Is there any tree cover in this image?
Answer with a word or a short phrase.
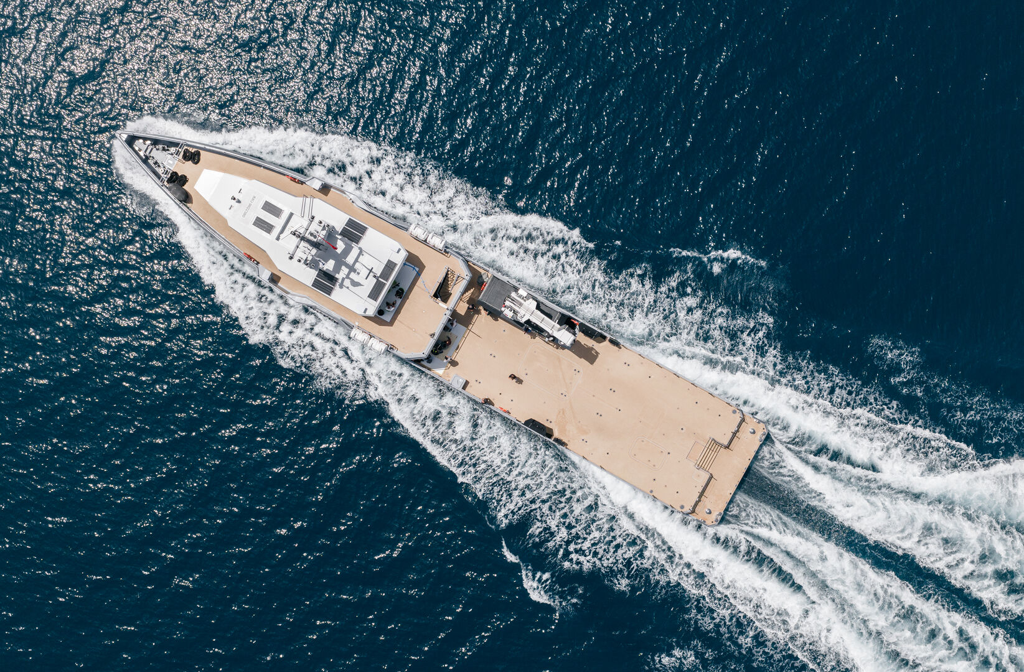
No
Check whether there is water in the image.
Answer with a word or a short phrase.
Yes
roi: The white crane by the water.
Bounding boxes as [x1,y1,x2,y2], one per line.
[502,289,579,348]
